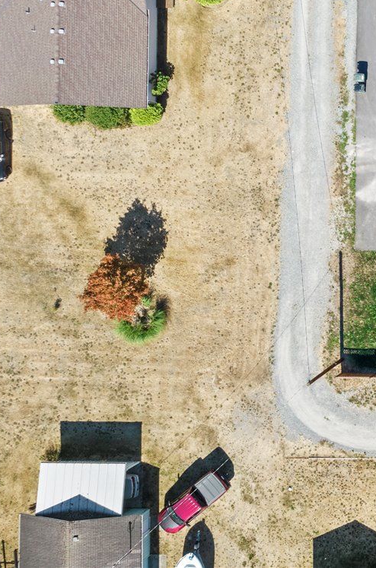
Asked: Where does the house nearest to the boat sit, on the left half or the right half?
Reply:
left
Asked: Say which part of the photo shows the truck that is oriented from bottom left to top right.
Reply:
bottom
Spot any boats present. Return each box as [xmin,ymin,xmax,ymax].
[175,547,201,568]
